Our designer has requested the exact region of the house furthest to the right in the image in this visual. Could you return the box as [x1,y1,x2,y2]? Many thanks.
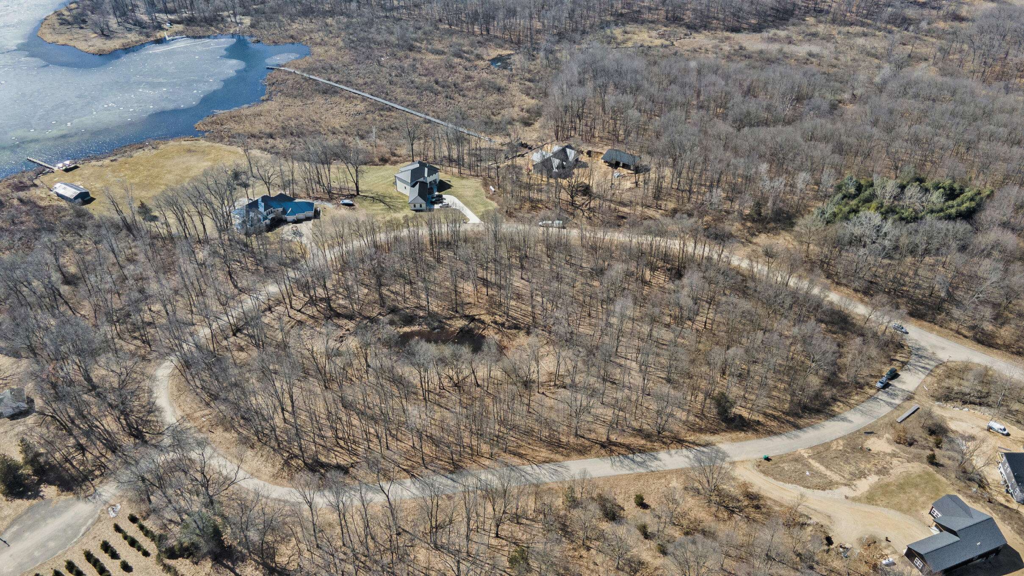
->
[992,446,1024,515]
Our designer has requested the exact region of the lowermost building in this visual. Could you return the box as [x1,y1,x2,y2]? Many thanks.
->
[903,495,1004,576]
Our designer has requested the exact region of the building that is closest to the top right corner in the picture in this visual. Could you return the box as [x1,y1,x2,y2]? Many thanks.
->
[601,152,642,171]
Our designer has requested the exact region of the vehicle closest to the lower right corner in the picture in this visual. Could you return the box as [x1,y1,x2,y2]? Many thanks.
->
[986,415,1012,434]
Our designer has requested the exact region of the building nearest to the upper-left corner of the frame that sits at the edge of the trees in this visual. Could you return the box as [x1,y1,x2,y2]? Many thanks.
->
[53,183,92,206]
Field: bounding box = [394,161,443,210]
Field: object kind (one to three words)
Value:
house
